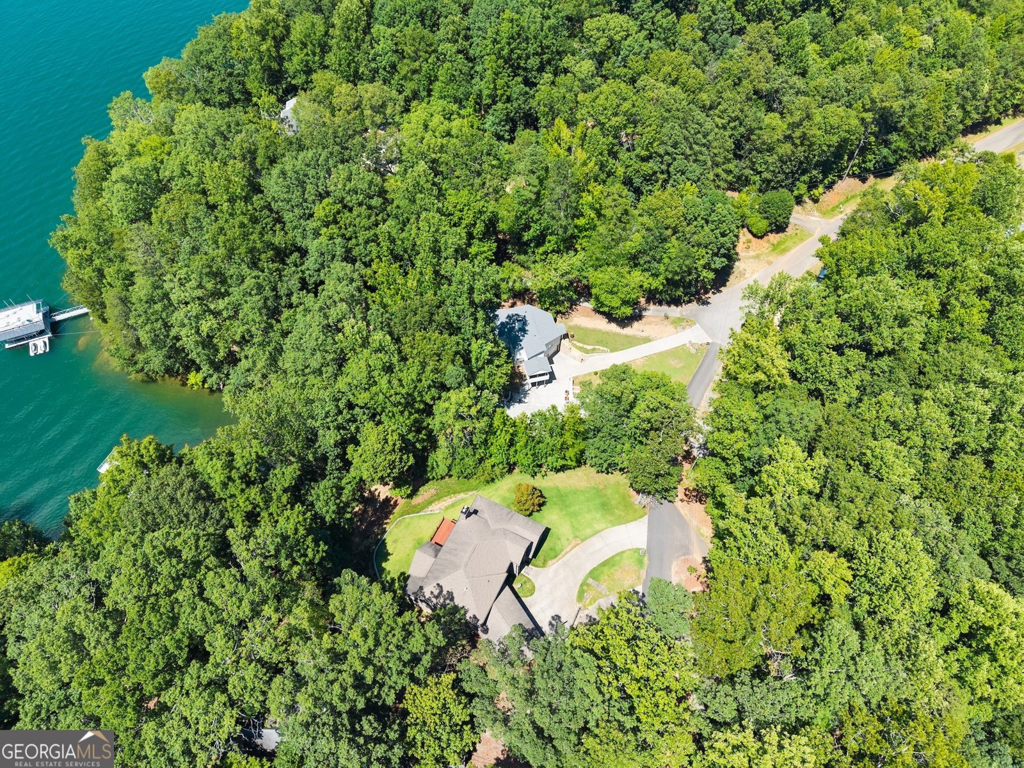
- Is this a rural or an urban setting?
rural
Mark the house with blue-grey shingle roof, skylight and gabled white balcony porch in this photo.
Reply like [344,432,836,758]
[494,305,567,395]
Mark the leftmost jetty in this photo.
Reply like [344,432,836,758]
[0,299,52,348]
